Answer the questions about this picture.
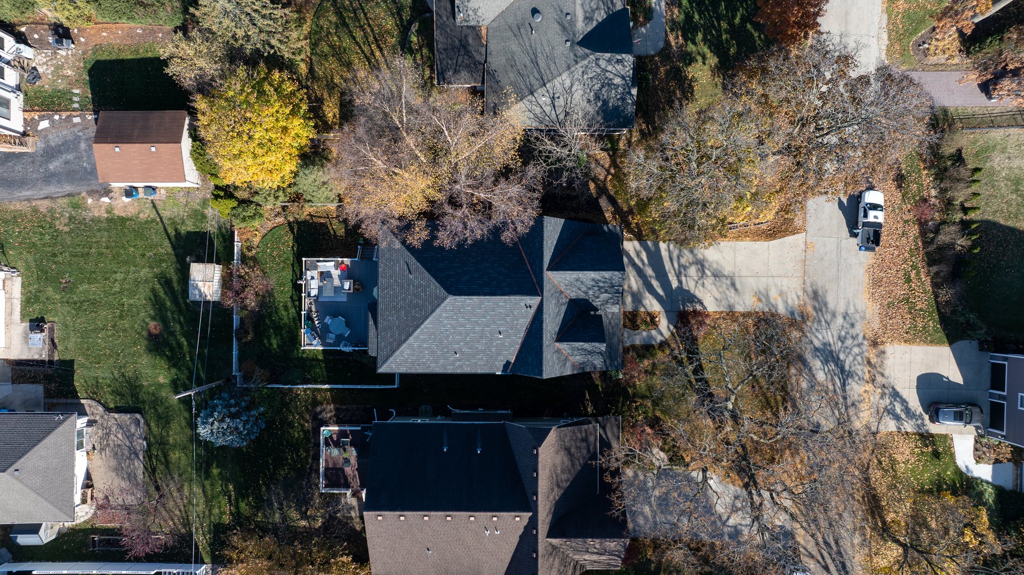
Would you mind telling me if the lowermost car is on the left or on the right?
right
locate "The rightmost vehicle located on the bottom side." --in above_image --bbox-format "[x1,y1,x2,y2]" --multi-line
[931,404,987,429]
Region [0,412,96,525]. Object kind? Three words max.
house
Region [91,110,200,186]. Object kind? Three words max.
building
